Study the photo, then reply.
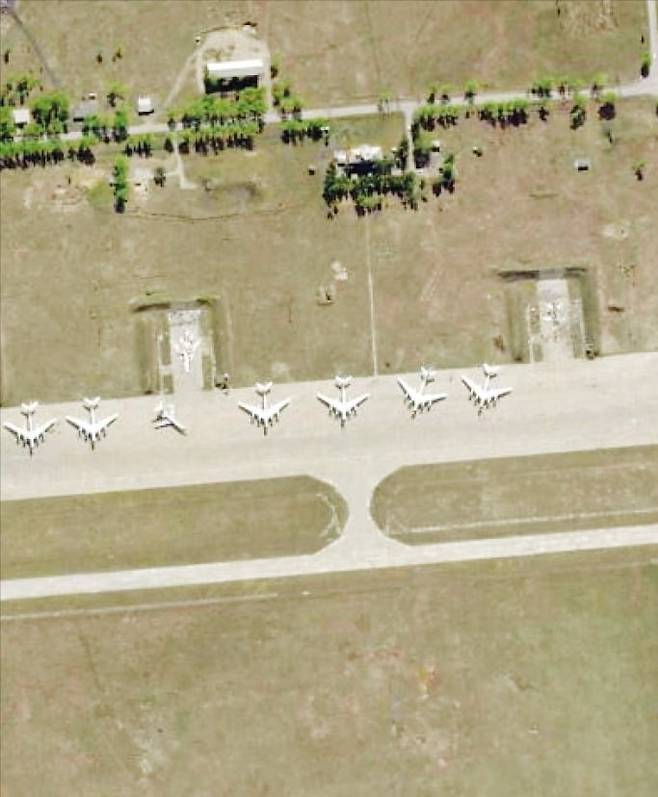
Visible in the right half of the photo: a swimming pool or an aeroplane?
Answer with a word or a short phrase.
aeroplane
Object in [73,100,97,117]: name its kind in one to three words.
house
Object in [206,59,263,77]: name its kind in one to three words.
barn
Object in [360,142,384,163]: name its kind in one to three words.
house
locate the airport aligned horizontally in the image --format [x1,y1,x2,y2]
[0,277,658,600]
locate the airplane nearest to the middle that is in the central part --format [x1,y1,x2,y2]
[317,375,369,424]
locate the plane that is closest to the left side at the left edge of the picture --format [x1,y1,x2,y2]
[4,402,56,451]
